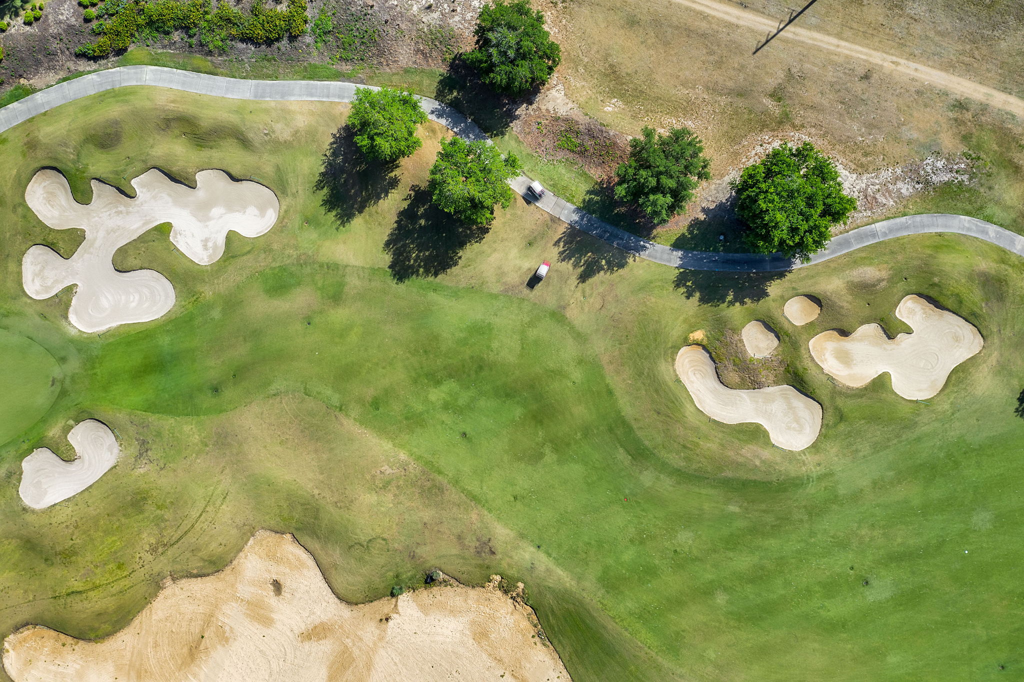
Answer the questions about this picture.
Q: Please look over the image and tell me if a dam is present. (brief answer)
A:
No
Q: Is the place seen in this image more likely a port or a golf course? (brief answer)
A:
golf course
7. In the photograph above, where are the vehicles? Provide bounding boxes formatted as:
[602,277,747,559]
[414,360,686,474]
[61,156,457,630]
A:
[536,258,551,278]
[529,179,546,198]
